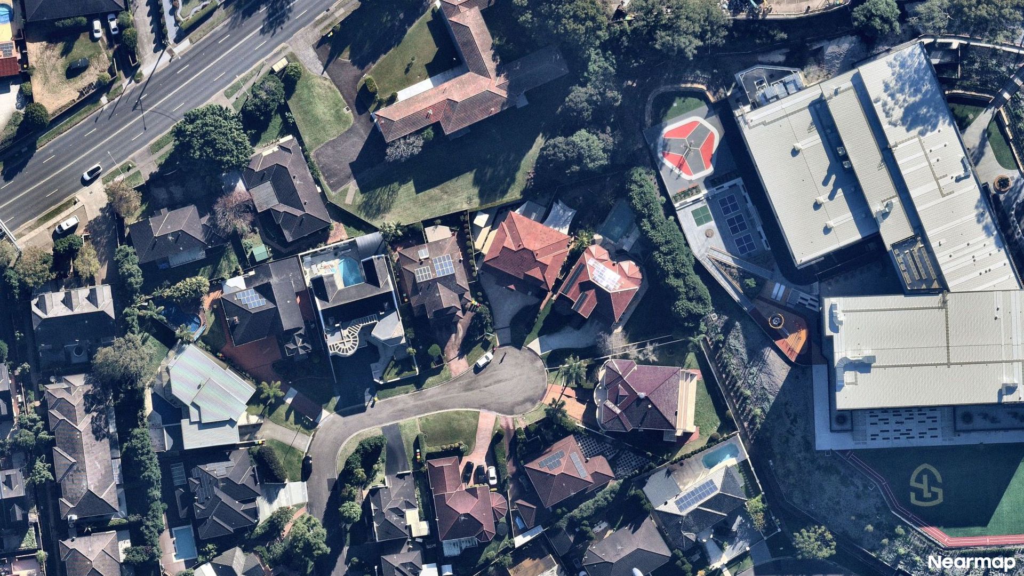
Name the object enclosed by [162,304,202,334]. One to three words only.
swimming pool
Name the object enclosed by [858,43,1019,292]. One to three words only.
building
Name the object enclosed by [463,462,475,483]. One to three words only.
vehicle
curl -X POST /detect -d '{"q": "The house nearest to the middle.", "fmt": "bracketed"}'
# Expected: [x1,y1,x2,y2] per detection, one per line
[484,210,570,297]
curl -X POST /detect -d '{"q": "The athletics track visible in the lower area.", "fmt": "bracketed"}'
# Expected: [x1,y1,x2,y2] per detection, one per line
[837,451,1024,547]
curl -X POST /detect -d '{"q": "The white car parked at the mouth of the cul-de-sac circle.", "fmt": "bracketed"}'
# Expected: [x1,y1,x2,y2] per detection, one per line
[474,352,494,368]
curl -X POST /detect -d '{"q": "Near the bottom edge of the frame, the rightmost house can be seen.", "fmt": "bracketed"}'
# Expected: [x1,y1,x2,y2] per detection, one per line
[643,464,749,553]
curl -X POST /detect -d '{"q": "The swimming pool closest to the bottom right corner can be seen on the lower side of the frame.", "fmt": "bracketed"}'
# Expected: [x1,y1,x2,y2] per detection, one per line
[701,442,741,470]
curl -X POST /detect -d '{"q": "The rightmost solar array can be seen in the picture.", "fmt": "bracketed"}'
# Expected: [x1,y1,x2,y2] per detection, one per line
[675,480,717,512]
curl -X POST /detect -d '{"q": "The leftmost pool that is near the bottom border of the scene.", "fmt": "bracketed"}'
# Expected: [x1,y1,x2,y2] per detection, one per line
[174,526,196,561]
